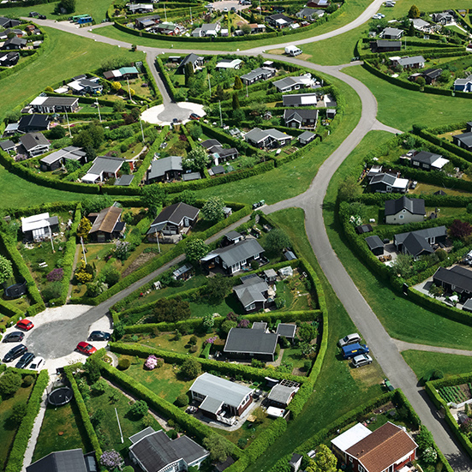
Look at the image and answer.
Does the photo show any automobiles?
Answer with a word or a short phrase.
Yes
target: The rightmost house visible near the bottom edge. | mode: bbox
[332,422,417,472]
